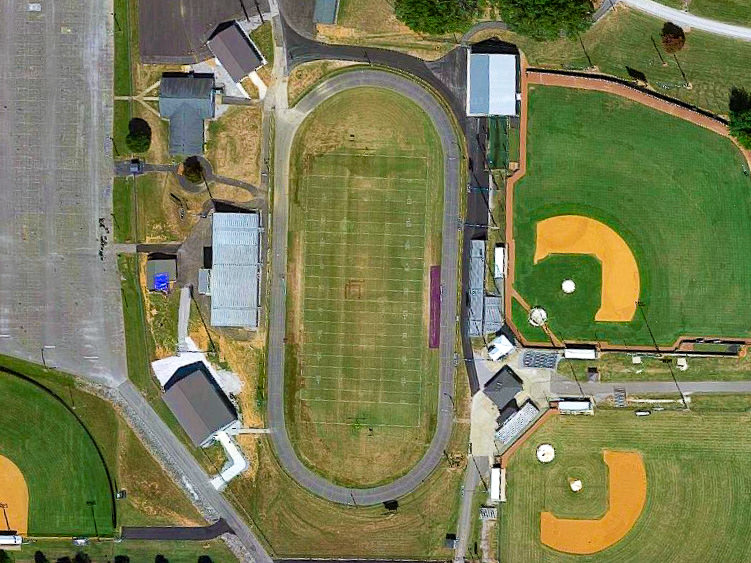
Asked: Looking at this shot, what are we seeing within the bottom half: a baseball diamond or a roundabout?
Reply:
baseball diamond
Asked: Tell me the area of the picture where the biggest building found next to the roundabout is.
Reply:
top left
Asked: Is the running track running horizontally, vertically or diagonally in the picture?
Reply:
vertically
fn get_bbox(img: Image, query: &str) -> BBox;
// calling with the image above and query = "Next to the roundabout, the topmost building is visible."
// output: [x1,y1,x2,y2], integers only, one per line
[157,78,224,153]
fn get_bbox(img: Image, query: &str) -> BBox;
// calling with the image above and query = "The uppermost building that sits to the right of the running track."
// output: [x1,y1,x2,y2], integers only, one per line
[470,54,522,114]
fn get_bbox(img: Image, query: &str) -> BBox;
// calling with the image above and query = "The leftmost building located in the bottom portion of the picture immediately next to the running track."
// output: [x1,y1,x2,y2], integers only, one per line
[162,369,242,446]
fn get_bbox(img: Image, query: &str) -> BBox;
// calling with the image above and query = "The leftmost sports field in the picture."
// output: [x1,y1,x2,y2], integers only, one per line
[284,87,444,489]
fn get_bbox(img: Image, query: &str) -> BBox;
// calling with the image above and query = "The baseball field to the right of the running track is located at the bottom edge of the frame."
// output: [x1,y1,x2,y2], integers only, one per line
[499,409,751,563]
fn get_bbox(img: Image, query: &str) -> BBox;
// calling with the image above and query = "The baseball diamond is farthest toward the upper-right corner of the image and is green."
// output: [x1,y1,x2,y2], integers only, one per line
[505,48,751,359]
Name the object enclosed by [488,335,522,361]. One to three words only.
building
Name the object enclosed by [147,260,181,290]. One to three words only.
building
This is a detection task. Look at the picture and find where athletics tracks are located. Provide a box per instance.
[267,72,461,505]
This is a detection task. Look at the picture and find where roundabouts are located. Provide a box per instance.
[176,155,214,192]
